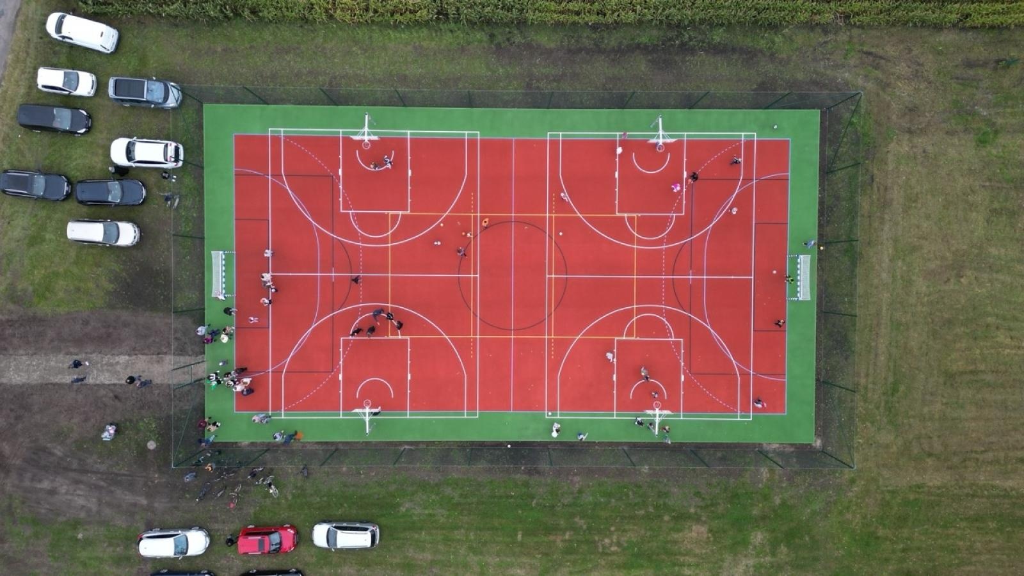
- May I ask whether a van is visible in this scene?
Yes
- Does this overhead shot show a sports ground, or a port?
sports ground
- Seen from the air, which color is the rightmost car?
white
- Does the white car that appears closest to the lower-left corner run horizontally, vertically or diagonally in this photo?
horizontally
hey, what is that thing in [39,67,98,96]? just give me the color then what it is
white car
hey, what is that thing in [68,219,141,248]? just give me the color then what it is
white car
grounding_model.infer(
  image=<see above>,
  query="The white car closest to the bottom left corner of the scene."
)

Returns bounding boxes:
[139,527,210,559]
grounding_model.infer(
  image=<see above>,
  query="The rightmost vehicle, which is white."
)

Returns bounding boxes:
[312,521,380,552]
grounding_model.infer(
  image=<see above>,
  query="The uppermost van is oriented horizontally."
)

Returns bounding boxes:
[46,10,121,53]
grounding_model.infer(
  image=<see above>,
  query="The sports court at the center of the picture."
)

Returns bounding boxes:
[203,104,820,444]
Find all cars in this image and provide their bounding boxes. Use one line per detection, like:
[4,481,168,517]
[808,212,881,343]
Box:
[39,67,98,96]
[242,567,305,576]
[78,177,147,206]
[110,137,184,168]
[239,525,299,556]
[139,527,210,559]
[110,77,183,108]
[2,170,72,200]
[18,104,93,135]
[312,521,380,552]
[68,219,141,248]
